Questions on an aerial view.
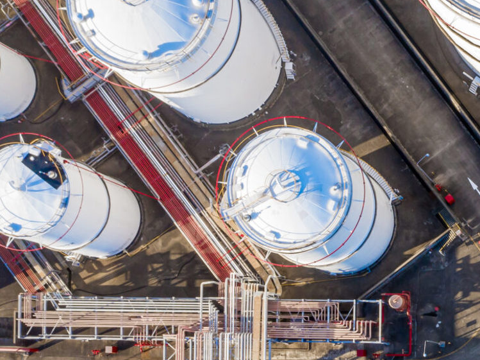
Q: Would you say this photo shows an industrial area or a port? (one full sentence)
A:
It's an industrial area.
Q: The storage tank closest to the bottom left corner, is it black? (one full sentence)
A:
No, the storage tank closest to the bottom left corner is actually white.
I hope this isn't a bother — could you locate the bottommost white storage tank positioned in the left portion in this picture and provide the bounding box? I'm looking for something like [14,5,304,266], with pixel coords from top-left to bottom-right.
[0,128,157,268]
